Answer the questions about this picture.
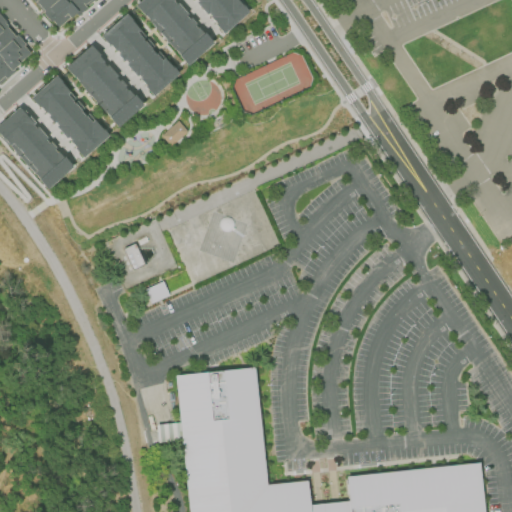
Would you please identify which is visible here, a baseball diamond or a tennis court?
tennis court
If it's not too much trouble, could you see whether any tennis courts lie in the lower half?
No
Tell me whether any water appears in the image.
No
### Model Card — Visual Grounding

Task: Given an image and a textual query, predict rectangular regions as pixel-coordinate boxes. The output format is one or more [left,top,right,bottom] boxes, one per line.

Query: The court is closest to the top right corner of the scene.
[235,53,313,112]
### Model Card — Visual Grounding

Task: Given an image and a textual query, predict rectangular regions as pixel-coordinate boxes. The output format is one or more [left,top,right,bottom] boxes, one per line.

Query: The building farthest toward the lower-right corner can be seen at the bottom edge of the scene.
[177,368,487,512]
